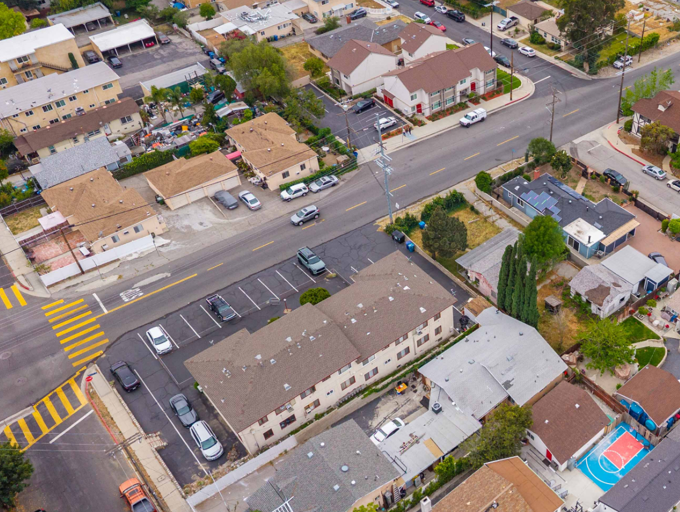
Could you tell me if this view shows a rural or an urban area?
urban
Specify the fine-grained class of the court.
basketball court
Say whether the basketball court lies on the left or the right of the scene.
right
